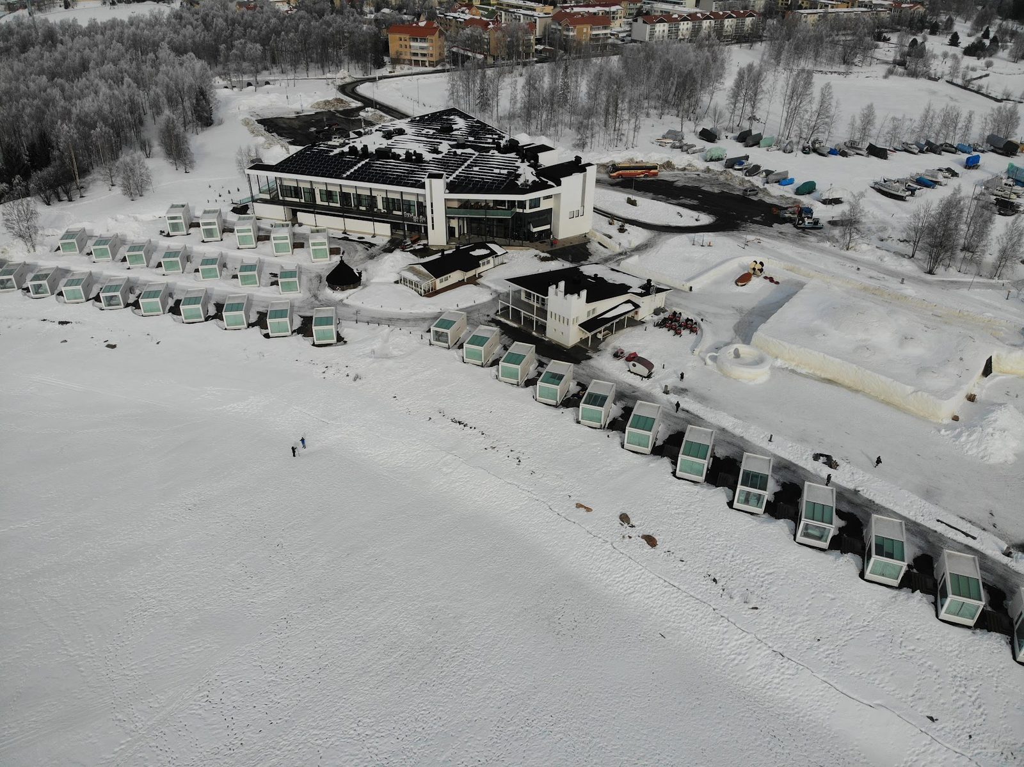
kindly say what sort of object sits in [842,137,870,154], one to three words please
boat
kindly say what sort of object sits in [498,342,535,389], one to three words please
building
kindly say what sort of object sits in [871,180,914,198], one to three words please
boat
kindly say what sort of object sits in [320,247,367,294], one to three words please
shed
